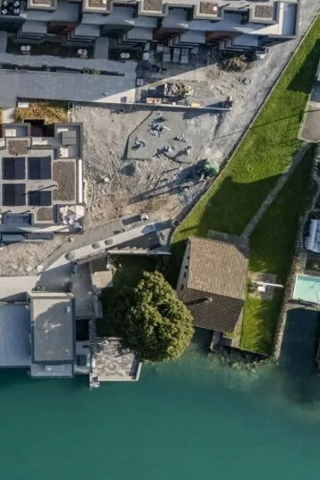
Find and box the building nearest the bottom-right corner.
[178,237,248,332]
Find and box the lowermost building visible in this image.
[27,288,75,376]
